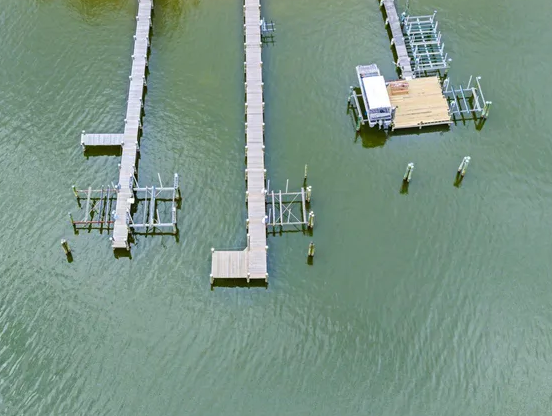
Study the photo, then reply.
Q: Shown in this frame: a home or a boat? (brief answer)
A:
boat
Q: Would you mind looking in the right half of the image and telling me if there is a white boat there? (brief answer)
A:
Yes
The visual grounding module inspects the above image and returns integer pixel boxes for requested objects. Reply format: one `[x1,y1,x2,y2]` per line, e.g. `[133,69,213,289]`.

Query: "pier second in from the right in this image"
[209,0,269,285]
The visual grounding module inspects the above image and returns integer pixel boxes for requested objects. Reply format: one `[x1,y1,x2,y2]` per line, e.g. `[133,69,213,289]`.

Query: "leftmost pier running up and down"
[81,0,154,254]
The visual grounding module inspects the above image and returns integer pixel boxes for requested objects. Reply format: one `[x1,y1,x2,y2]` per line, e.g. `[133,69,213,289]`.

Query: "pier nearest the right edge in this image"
[378,0,453,136]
